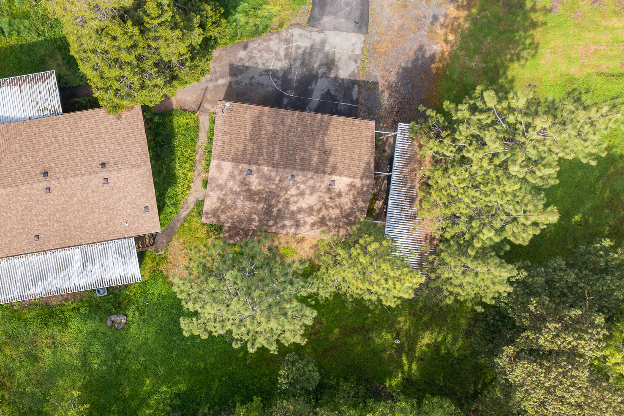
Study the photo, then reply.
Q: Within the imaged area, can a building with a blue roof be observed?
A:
No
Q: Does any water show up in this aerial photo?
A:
No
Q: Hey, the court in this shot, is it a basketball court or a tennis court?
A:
basketball court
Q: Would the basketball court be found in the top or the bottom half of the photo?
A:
top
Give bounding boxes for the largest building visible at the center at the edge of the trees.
[201,99,377,249]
